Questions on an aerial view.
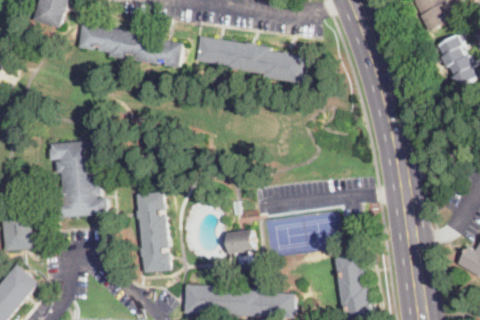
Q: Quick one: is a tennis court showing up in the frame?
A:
Yes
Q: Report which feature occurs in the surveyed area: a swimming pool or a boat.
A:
swimming pool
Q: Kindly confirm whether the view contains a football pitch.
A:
No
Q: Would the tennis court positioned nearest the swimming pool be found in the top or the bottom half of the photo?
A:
bottom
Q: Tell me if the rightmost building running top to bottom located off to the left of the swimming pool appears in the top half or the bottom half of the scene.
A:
bottom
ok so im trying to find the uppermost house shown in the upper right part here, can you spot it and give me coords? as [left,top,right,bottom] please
[418,0,447,32]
